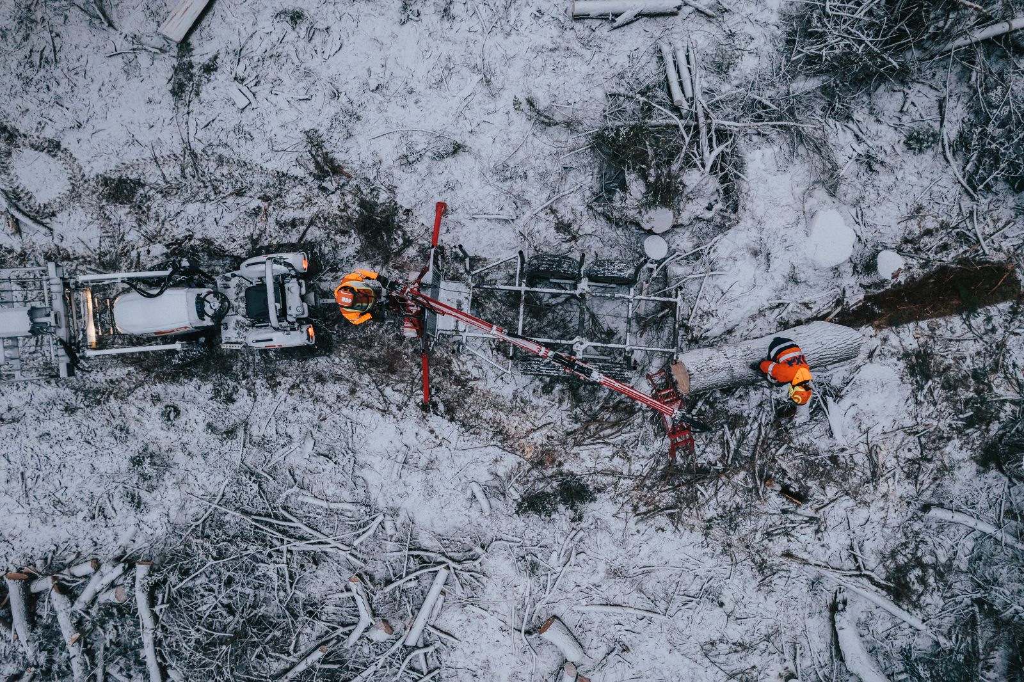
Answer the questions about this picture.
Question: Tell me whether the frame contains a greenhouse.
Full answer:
No, no greenhouse can be seen from above.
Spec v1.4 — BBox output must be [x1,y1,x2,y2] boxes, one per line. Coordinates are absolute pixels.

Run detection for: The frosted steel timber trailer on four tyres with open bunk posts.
[372,243,686,381]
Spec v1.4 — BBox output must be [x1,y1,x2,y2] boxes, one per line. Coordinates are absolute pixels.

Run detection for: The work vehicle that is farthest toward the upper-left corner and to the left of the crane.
[68,239,337,366]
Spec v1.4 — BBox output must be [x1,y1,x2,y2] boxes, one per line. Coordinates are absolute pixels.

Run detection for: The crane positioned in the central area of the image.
[384,196,713,431]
